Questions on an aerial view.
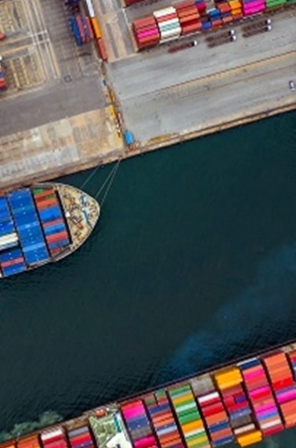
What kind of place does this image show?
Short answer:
port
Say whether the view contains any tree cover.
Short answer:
No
